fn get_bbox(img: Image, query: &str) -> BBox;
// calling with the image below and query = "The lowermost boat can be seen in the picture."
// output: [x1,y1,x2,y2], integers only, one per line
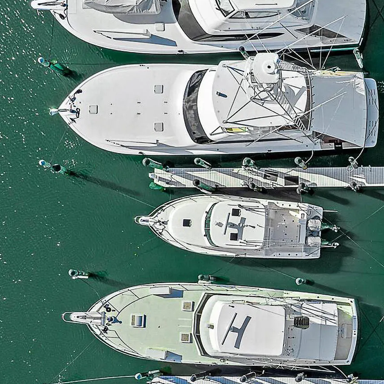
[62,281,358,372]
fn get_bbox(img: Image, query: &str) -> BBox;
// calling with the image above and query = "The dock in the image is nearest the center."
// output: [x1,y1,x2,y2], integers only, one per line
[151,166,384,190]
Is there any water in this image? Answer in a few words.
Yes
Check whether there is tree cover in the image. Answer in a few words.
No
